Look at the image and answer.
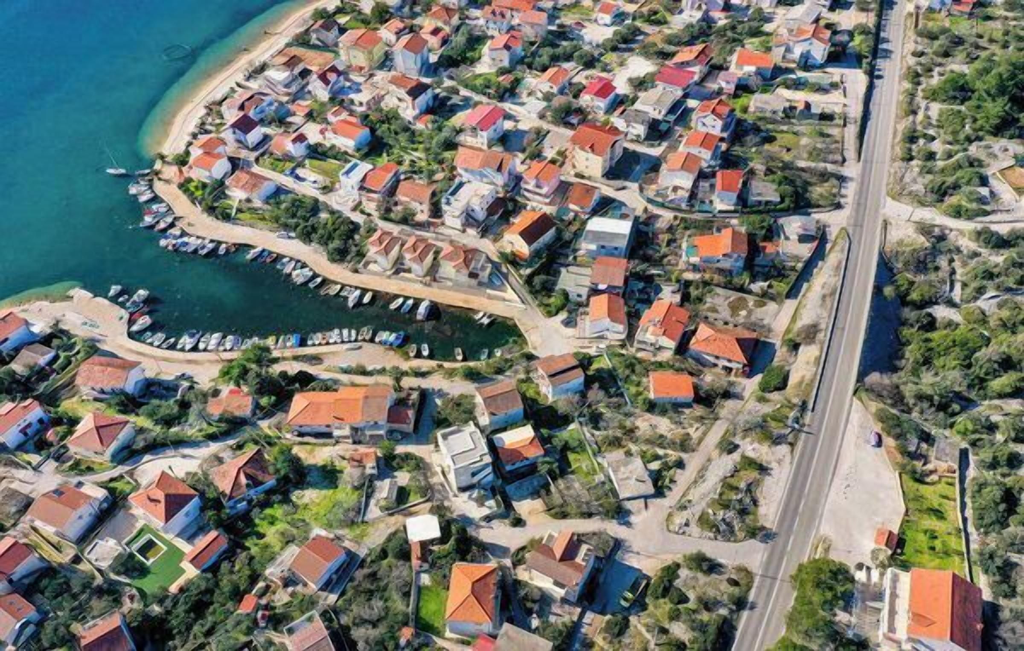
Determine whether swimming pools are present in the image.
Yes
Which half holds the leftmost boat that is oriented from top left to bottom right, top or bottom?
top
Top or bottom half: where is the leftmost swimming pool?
bottom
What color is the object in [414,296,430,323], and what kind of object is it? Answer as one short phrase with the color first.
white boat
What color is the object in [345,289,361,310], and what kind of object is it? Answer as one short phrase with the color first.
white boat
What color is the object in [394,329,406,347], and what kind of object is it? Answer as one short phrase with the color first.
blue boat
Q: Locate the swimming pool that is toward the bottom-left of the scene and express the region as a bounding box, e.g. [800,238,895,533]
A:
[130,533,168,566]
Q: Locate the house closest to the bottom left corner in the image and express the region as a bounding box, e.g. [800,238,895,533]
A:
[0,587,48,650]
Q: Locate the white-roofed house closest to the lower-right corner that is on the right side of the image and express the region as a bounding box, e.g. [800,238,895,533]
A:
[869,563,912,651]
